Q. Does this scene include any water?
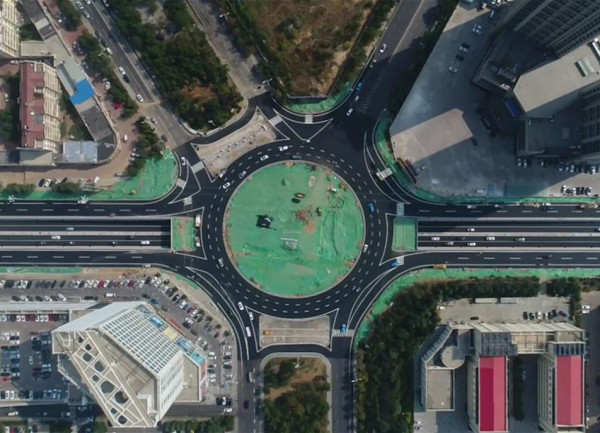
No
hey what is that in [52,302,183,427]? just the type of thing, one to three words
building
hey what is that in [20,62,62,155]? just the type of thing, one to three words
building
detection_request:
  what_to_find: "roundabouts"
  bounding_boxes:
[201,138,387,321]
